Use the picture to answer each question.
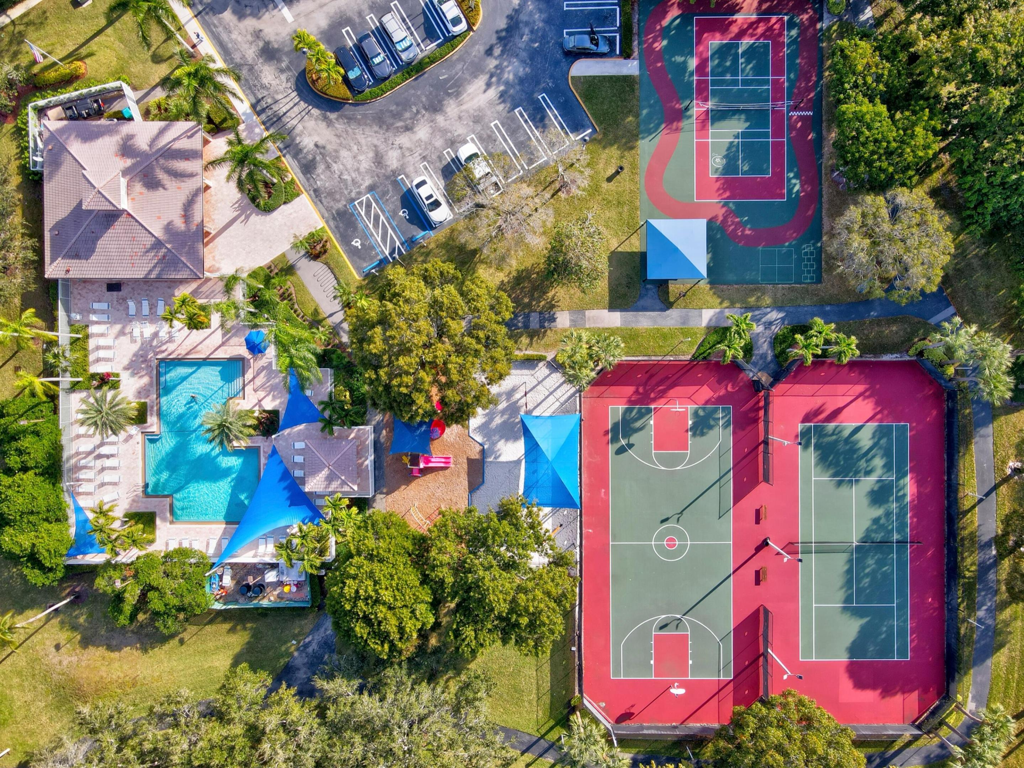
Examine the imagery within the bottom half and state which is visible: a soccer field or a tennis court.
tennis court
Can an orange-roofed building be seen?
No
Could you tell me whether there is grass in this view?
Yes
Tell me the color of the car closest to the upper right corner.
blue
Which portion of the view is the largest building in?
top left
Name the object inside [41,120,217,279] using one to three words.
building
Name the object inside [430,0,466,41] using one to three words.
car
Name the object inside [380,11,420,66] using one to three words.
car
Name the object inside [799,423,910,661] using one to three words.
tennis court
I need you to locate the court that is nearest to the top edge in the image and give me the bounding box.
[639,0,823,284]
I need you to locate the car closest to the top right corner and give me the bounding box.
[562,23,610,56]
